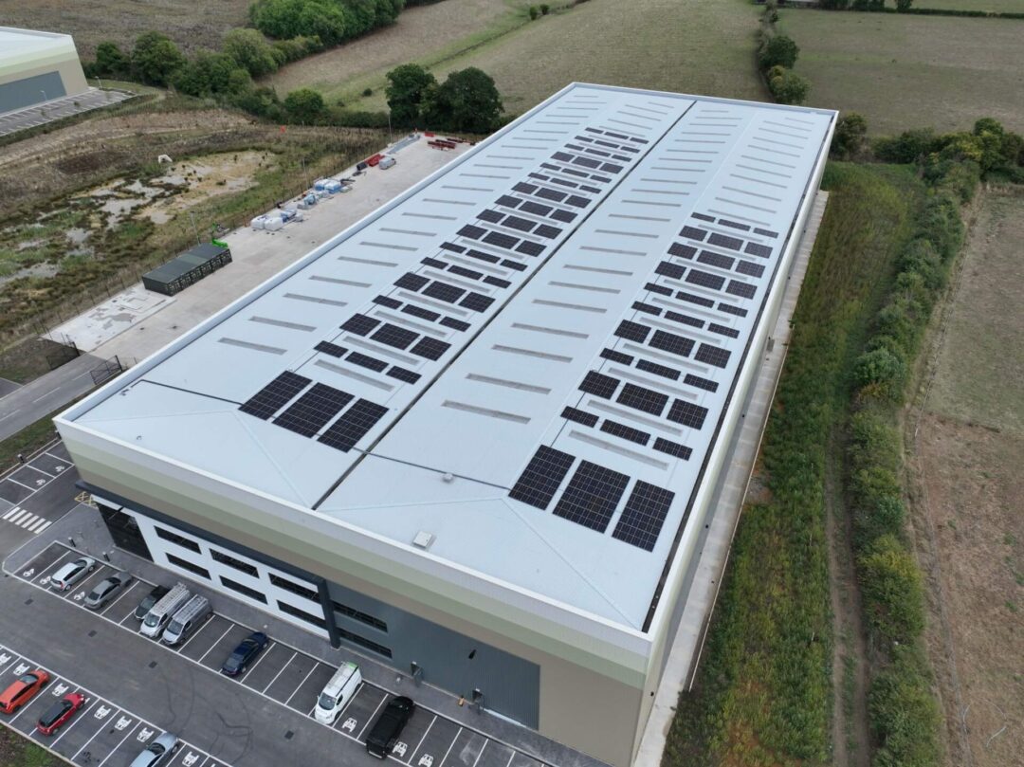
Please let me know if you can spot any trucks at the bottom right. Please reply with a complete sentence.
No, at the bottom right there is no truck.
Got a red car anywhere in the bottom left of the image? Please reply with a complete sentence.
Yes, a red car appears in the bottom left of the image.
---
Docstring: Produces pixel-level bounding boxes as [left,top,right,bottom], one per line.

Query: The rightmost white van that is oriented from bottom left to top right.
[314,659,367,728]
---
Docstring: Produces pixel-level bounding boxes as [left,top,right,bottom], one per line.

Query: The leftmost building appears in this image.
[0,22,91,114]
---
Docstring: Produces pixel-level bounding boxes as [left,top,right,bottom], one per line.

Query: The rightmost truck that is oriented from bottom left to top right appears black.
[356,692,409,761]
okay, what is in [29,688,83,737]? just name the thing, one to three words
car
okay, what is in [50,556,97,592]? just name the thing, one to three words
car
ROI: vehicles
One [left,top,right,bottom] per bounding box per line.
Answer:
[29,688,83,737]
[158,591,213,650]
[137,581,191,641]
[115,724,175,767]
[356,692,409,761]
[83,568,135,610]
[127,583,169,623]
[0,666,50,717]
[314,659,367,728]
[50,556,97,592]
[219,628,270,678]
